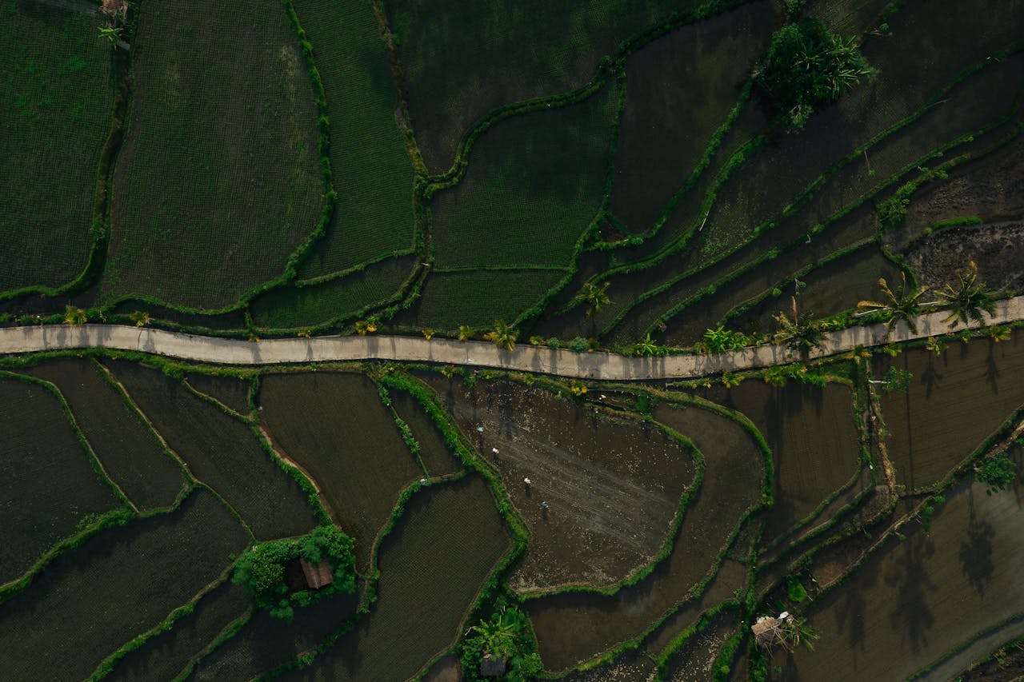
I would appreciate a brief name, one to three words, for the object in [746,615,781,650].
shed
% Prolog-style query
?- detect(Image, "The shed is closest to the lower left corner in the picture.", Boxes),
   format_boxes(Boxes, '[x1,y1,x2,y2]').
[298,557,336,588]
